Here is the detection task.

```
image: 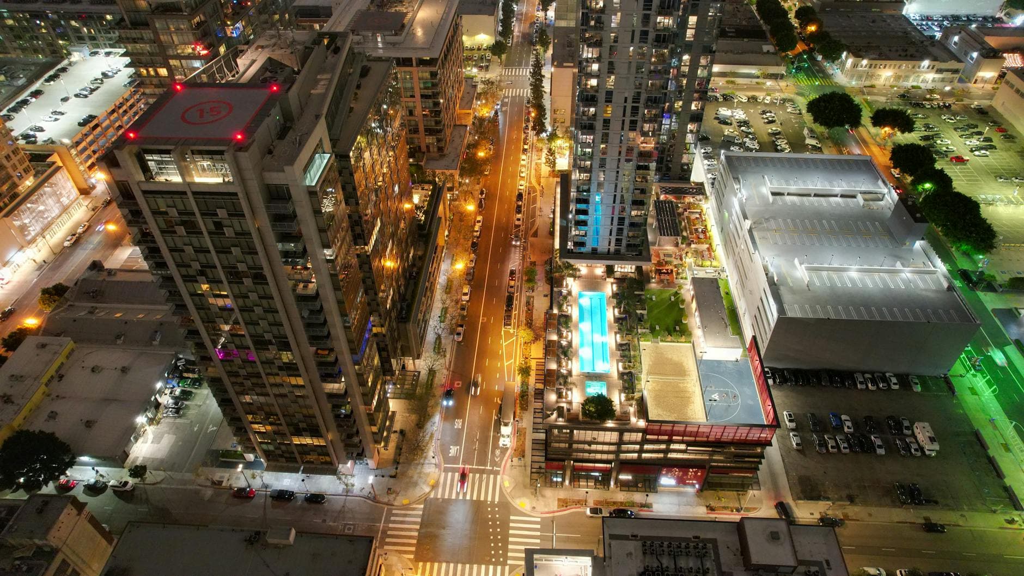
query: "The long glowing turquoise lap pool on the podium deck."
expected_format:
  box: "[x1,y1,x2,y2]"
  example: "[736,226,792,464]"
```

[577,290,613,373]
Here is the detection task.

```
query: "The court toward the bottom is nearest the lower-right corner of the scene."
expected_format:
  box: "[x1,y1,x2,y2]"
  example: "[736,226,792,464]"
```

[697,354,769,423]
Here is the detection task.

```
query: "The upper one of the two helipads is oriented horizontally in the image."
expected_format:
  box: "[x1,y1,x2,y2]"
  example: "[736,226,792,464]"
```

[366,12,417,32]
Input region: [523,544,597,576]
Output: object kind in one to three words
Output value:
building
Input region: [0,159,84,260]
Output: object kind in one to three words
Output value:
building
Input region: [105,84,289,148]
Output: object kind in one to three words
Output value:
helipad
